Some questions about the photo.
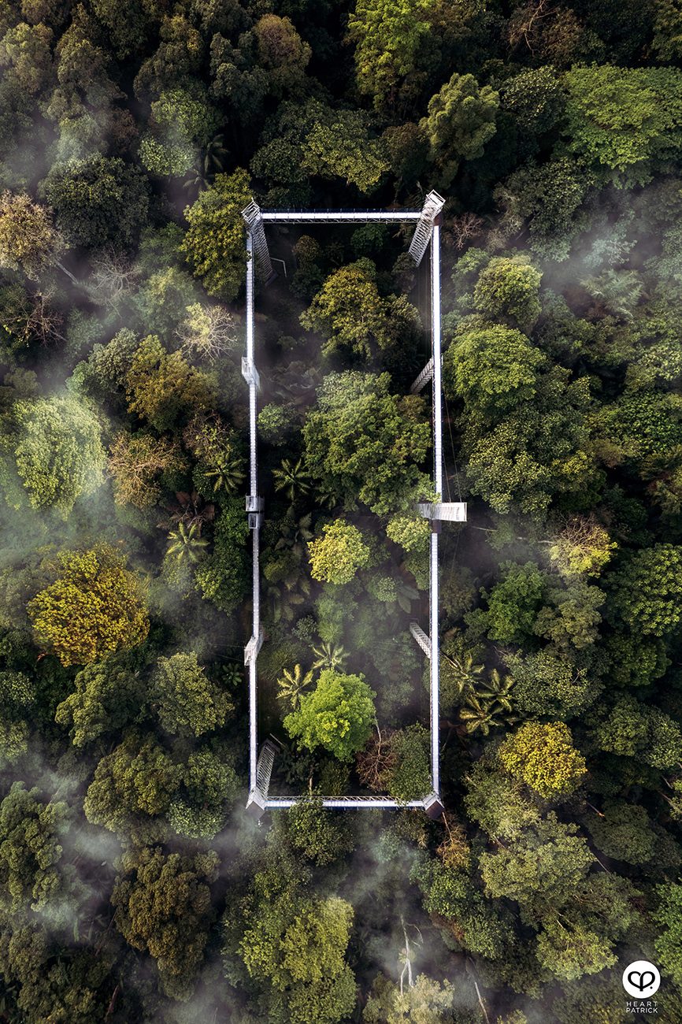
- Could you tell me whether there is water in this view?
No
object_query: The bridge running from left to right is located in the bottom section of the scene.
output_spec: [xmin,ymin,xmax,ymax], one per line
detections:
[266,795,425,810]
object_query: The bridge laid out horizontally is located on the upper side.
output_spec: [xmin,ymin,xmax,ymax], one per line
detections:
[261,208,427,223]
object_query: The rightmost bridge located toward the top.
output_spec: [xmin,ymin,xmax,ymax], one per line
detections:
[431,226,444,503]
